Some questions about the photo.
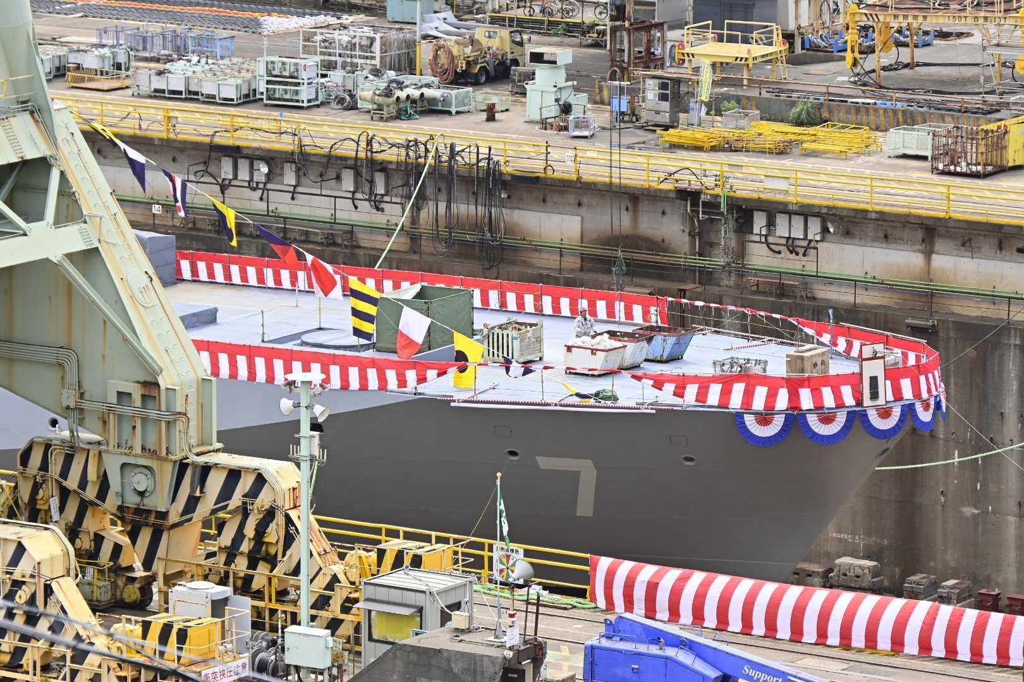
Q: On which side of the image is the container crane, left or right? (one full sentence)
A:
You can find the container crane on the left side of the picture.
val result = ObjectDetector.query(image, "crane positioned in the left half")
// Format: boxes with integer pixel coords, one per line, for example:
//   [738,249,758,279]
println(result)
[0,0,378,682]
